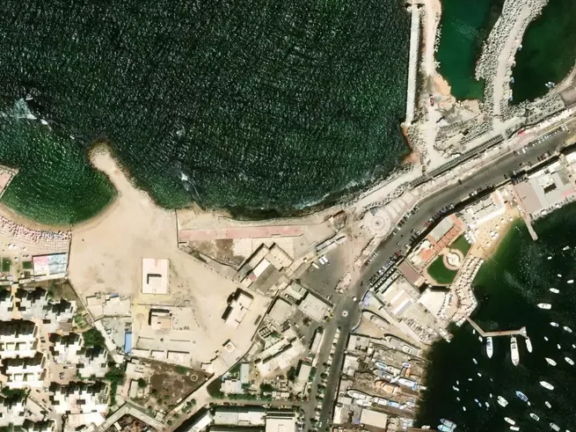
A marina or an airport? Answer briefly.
marina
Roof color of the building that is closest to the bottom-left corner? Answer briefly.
white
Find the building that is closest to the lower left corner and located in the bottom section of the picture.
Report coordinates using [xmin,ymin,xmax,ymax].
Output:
[0,397,26,426]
